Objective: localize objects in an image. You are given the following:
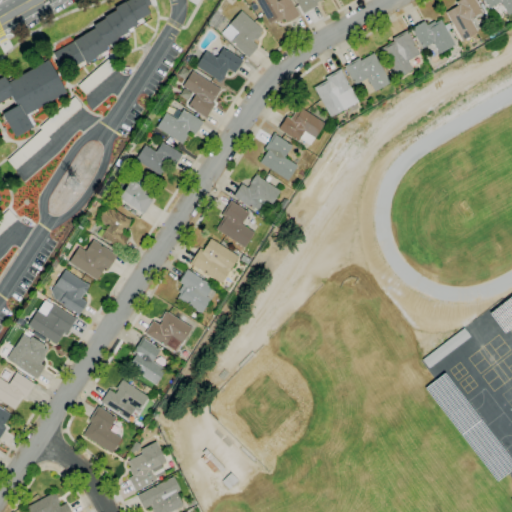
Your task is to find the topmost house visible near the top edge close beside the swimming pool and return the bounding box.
[223,10,268,54]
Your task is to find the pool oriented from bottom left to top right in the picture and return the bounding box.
[200,30,217,49]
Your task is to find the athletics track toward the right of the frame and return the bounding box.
[375,84,512,301]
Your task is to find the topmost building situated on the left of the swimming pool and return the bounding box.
[54,0,164,62]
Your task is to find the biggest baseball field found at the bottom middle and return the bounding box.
[210,350,312,474]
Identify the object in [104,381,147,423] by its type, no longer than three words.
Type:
house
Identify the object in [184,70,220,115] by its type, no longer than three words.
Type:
house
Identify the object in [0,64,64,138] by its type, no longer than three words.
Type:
building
